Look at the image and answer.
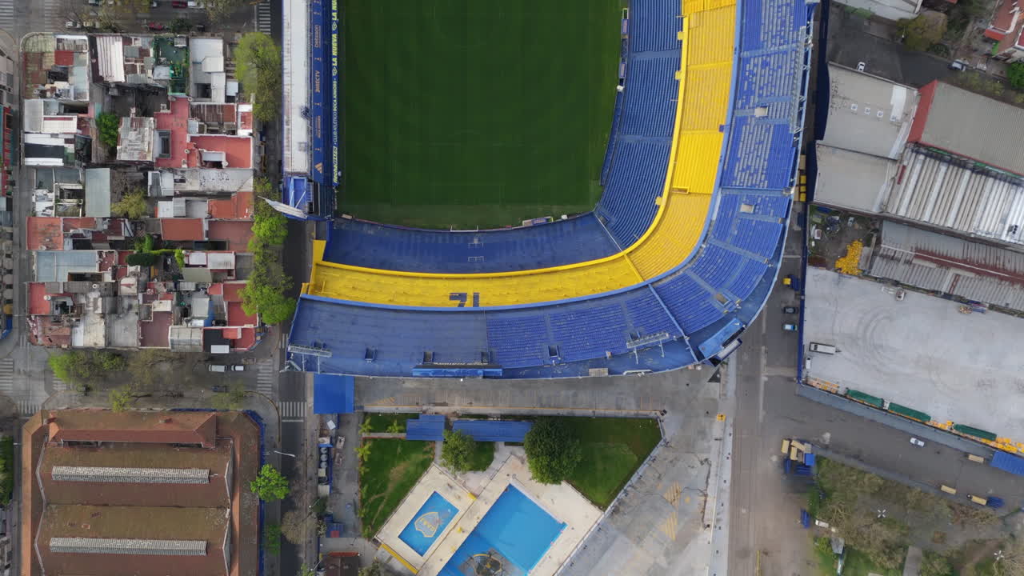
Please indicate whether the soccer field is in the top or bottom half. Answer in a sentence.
Seen from above, the soccer field lies in the top half of the view.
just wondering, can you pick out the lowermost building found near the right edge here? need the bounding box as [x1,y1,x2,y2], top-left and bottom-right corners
[863,220,1024,317]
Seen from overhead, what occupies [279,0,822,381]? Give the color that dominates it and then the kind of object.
blue stadium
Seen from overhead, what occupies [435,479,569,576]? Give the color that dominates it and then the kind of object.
blue swimming pool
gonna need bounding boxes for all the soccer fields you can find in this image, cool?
[335,0,628,230]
